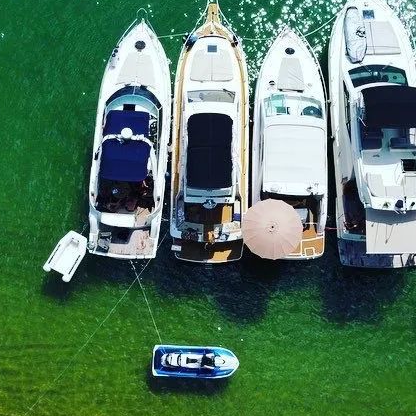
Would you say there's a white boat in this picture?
Yes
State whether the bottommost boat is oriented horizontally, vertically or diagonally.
horizontally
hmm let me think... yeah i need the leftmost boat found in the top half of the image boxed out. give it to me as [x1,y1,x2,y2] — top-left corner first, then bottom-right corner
[87,10,171,262]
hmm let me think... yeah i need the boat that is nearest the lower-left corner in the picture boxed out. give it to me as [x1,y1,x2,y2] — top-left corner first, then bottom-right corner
[45,226,89,282]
